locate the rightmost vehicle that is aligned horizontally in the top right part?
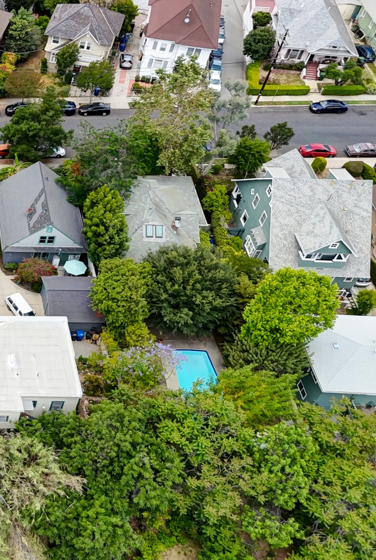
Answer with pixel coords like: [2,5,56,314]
[343,144,376,158]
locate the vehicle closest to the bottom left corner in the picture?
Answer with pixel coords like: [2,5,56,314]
[4,290,36,313]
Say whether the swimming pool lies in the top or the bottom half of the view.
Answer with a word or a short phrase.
bottom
